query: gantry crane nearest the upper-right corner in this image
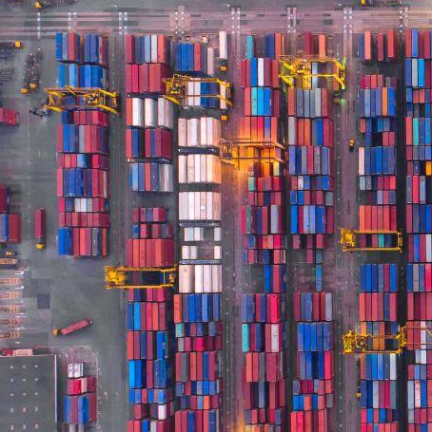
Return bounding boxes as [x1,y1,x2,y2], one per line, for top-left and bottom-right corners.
[276,56,345,88]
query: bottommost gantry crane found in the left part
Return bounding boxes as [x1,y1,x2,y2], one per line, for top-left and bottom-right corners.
[110,264,183,289]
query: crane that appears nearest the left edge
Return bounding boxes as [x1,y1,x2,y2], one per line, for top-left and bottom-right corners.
[41,86,118,117]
